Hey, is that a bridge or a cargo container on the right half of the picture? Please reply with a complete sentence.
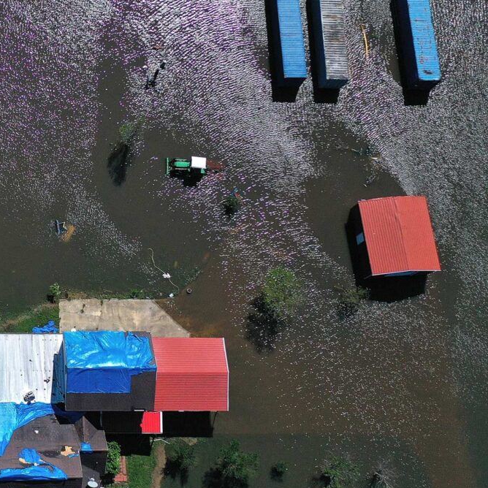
Visible on the right half of the picture is a cargo container.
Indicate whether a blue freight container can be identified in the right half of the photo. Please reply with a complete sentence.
Yes, the scene does show a blue freight container in the right half of the photo.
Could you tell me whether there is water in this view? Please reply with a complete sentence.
Yes, there is water in the image.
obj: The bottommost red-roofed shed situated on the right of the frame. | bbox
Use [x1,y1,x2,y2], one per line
[350,196,441,282]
